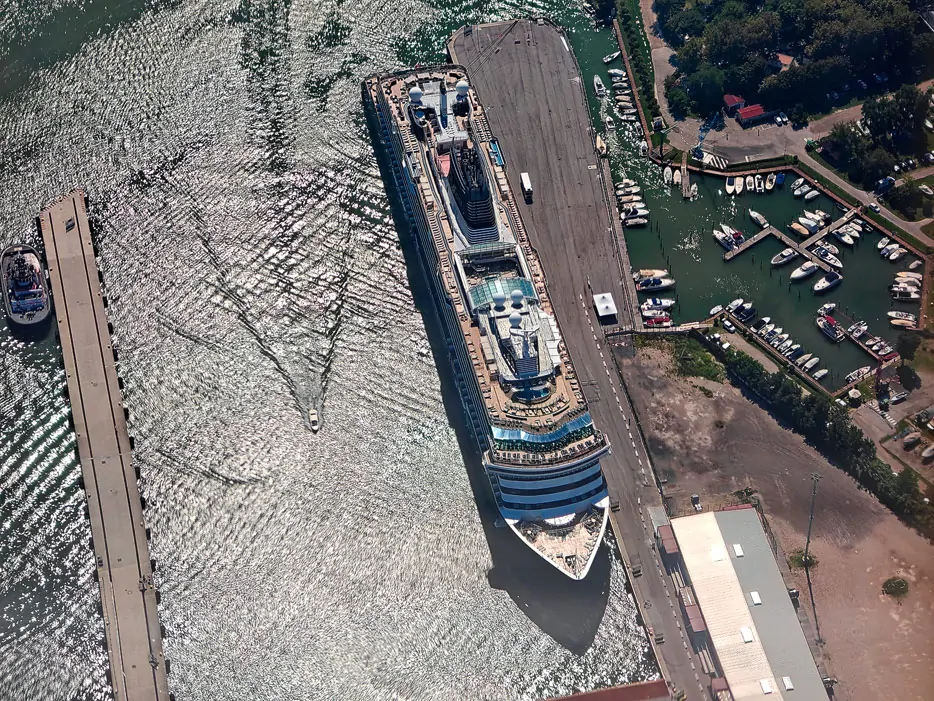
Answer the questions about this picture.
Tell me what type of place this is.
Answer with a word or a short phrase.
port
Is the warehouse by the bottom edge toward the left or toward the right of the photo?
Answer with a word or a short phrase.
right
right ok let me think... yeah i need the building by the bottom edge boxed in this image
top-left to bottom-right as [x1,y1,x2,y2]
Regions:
[671,504,830,701]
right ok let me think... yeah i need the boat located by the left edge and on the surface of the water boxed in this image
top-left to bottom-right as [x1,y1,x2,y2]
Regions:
[0,243,51,325]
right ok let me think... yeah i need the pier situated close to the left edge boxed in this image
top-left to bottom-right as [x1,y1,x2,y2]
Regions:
[38,190,173,701]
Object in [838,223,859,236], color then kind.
white boat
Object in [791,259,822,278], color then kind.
white boat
